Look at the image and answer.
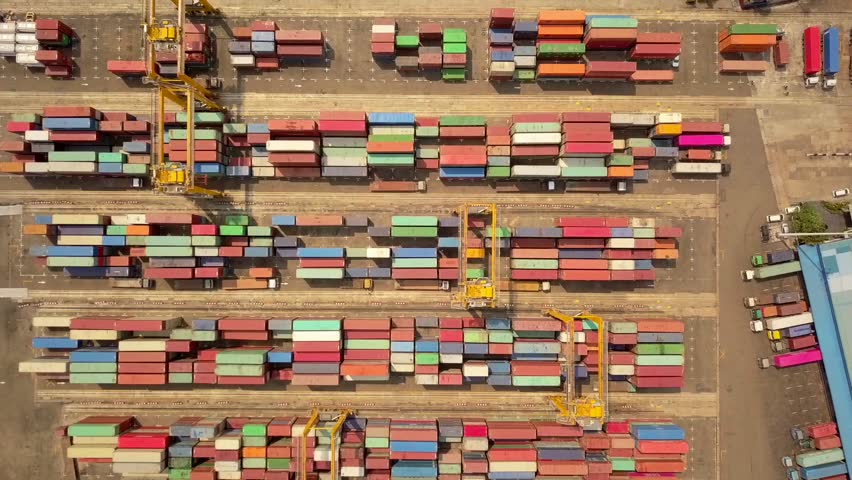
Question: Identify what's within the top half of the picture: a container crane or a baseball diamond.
container crane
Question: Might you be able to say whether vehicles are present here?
Yes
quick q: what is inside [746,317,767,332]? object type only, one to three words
vehicle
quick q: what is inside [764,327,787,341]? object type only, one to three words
vehicle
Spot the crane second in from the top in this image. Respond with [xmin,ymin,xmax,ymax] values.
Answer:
[154,88,231,197]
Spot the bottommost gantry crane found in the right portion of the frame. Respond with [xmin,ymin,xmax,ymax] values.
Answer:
[542,307,607,428]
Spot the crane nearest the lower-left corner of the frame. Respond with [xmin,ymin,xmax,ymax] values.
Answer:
[296,408,355,480]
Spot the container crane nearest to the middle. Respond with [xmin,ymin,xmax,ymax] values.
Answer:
[448,203,498,309]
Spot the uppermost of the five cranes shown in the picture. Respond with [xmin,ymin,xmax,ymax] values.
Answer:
[146,0,223,97]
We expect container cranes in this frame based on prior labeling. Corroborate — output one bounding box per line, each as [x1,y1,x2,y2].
[154,88,231,197]
[296,408,355,480]
[542,307,607,428]
[146,0,223,97]
[448,203,498,309]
